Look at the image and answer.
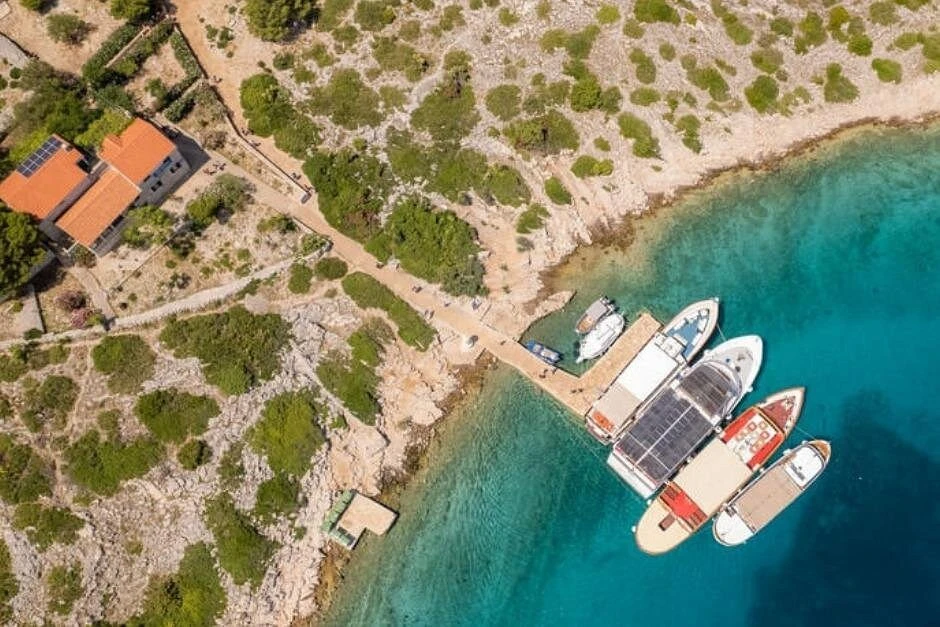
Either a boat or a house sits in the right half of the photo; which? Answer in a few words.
boat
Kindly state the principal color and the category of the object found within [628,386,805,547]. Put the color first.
white boat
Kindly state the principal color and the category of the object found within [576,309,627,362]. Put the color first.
white boat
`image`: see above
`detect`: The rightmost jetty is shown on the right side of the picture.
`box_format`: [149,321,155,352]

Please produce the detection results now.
[476,313,661,416]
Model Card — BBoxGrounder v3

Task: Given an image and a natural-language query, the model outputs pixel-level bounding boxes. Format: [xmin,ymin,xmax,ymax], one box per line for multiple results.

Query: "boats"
[584,295,722,447]
[525,341,561,364]
[576,309,627,362]
[574,294,616,331]
[707,440,834,547]
[607,336,765,499]
[628,386,805,547]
